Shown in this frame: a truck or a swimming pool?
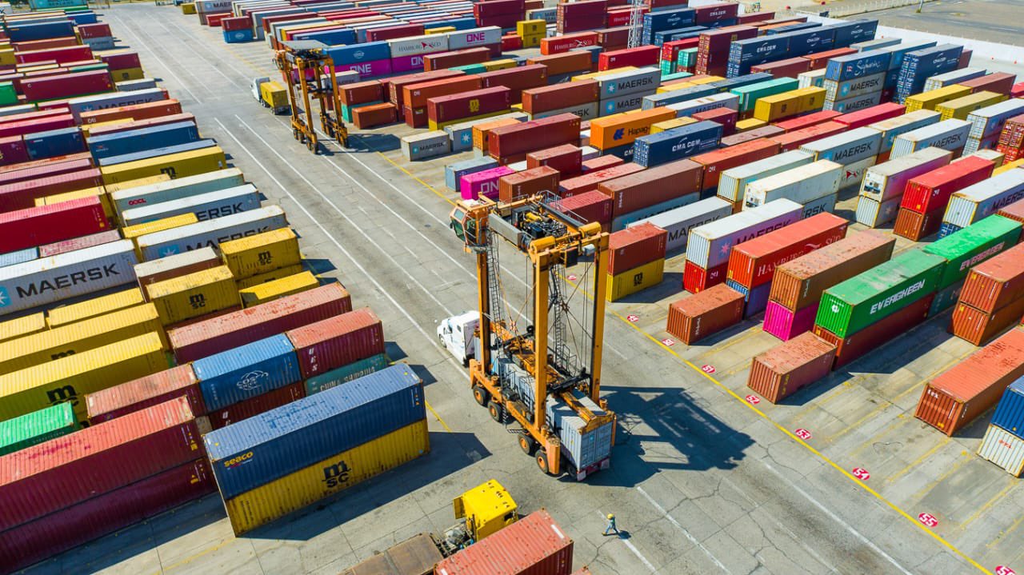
truck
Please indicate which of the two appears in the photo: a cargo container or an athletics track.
cargo container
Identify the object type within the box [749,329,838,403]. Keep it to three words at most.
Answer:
shipping container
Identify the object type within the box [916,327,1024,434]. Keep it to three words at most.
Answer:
shipping container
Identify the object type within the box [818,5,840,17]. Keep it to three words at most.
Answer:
vehicle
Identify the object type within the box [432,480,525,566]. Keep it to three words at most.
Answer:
work vehicle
